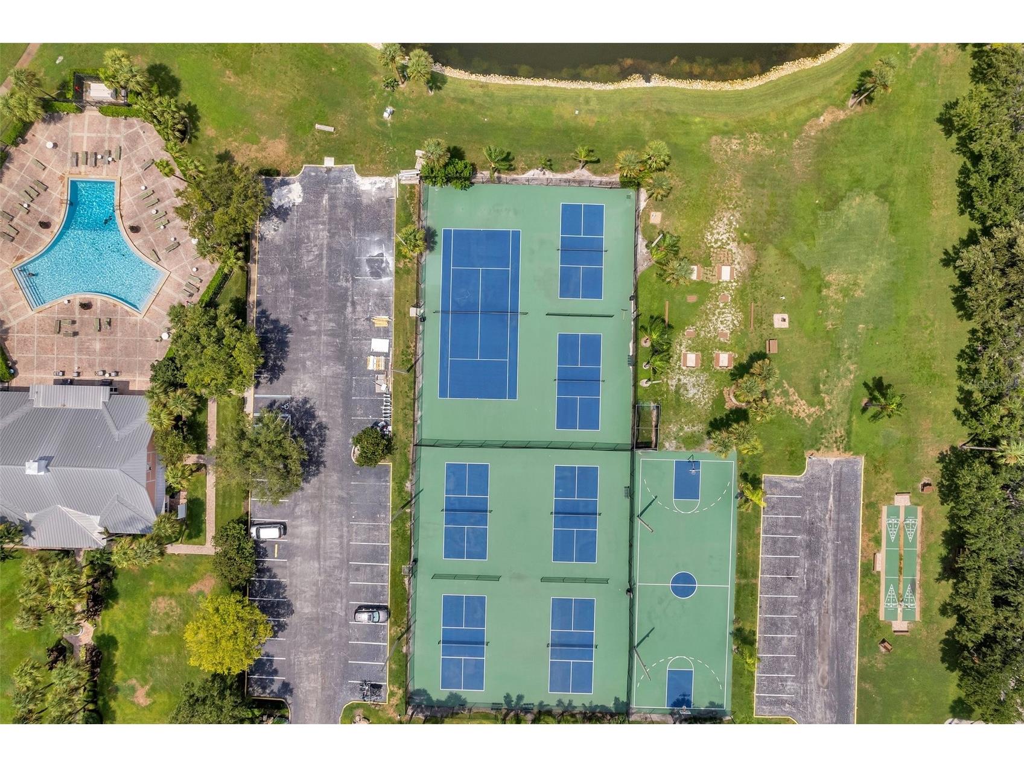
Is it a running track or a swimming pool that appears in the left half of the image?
swimming pool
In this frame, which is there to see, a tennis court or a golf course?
tennis court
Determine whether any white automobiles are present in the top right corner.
No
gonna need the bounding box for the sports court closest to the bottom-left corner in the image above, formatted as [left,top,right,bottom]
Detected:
[437,595,489,691]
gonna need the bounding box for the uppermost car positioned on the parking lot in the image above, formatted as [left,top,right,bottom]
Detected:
[249,524,284,541]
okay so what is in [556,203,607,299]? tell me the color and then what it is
blue sports court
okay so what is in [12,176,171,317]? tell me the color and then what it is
blue swimming pool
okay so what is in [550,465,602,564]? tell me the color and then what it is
blue sports court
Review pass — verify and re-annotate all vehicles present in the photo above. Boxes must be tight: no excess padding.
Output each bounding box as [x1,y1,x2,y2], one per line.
[249,524,284,541]
[354,607,389,624]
